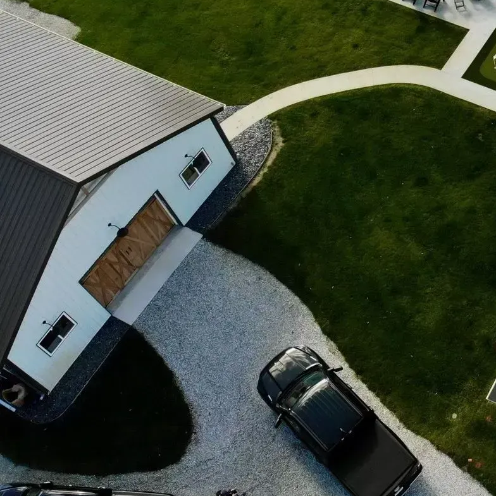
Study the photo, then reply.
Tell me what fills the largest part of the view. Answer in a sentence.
For the most part, this view shows grass.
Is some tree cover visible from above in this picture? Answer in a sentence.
No, the scene doesn't show any tree cover.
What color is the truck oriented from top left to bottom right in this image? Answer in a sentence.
The truck oriented from top left to bottom right looks black in the image.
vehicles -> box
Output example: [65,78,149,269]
[257,342,430,496]
[0,465,191,496]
